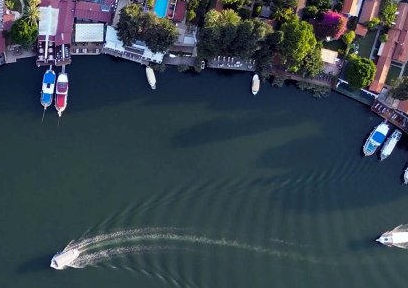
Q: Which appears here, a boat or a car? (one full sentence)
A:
The image shows a boat.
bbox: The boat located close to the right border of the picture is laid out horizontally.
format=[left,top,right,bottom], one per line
[374,231,408,244]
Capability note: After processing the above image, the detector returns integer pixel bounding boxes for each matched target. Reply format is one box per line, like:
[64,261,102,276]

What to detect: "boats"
[49,247,83,267]
[374,231,408,244]
[145,66,156,90]
[43,69,55,111]
[252,74,260,95]
[379,130,400,162]
[363,121,388,157]
[56,72,68,116]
